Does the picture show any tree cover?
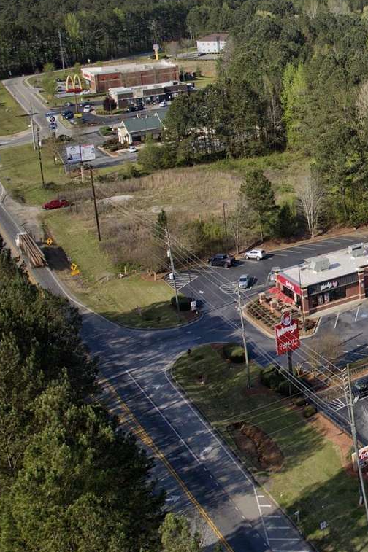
Yes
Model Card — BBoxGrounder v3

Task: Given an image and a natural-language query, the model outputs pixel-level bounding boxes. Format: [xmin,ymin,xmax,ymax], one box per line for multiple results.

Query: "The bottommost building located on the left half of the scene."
[111,113,165,141]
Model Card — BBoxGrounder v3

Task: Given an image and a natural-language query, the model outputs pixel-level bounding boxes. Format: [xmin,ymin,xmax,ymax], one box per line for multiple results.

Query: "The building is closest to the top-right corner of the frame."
[195,35,225,53]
